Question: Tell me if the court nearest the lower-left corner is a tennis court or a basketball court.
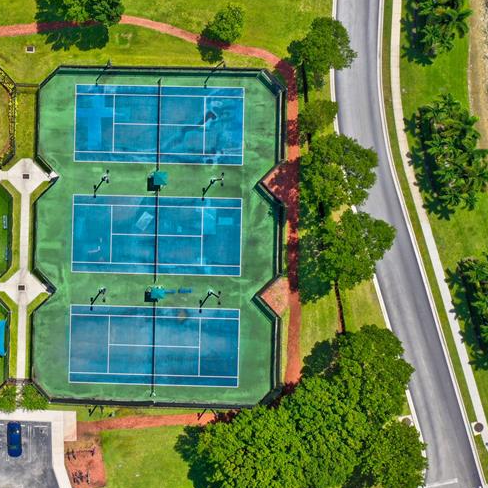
tennis court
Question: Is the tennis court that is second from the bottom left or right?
left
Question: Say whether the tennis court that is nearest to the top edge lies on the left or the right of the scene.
left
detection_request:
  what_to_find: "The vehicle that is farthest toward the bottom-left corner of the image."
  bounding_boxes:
[6,423,22,458]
